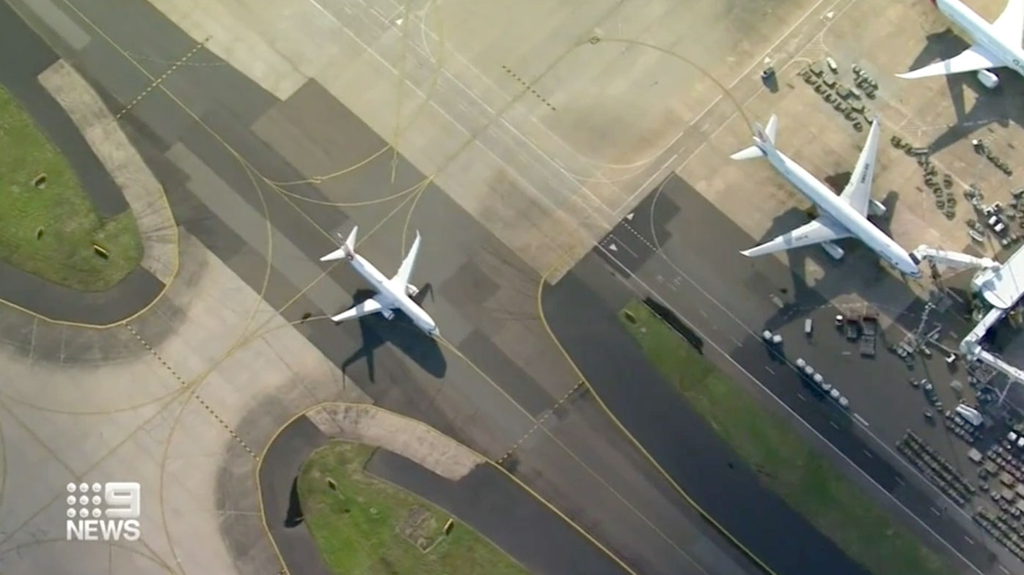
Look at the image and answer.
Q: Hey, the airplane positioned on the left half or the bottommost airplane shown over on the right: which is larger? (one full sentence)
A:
Of the two, the bottommost airplane shown over on the right is larger and the airplane positioned on the left half is the smaller one.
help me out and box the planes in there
[896,0,1024,90]
[320,226,439,337]
[731,115,921,277]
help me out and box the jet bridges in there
[907,244,1001,294]
[959,304,1024,391]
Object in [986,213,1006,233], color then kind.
white vehicle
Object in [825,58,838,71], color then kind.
white vehicle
